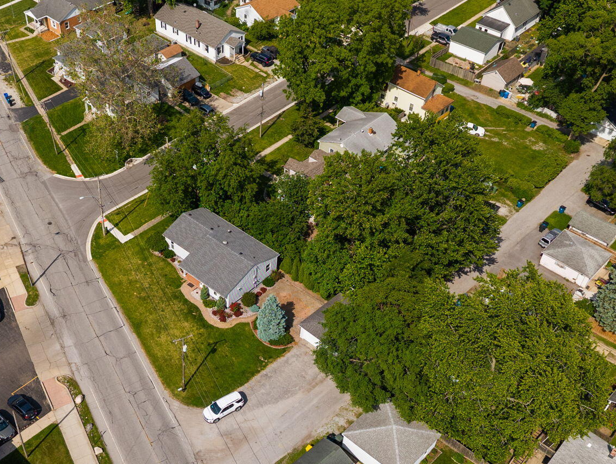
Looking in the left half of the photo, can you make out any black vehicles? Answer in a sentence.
Yes, you'll find a black vehicle in the left half of the photo.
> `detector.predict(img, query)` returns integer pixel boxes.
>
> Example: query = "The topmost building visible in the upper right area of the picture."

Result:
[475,0,534,42]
